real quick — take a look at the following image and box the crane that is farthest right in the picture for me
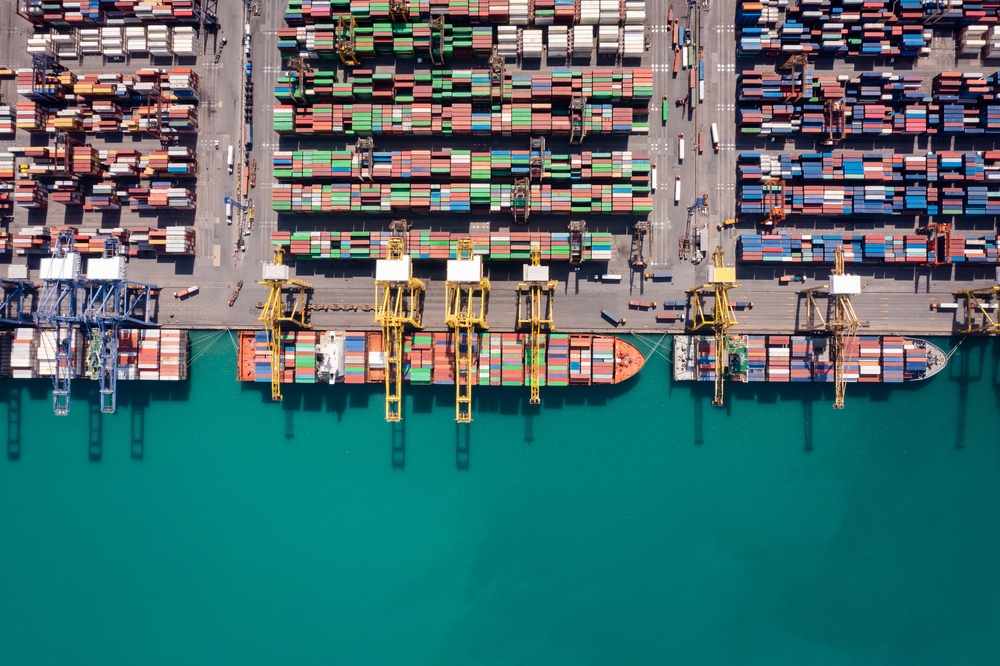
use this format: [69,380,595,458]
[951,267,1000,327]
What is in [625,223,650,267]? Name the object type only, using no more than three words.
container crane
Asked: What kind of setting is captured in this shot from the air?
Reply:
port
